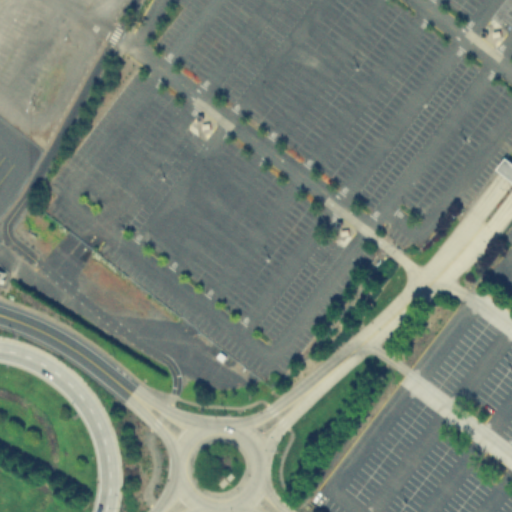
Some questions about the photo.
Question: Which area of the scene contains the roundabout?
bottom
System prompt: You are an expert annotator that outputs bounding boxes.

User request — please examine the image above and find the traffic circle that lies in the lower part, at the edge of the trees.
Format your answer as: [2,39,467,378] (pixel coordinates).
[150,407,294,512]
